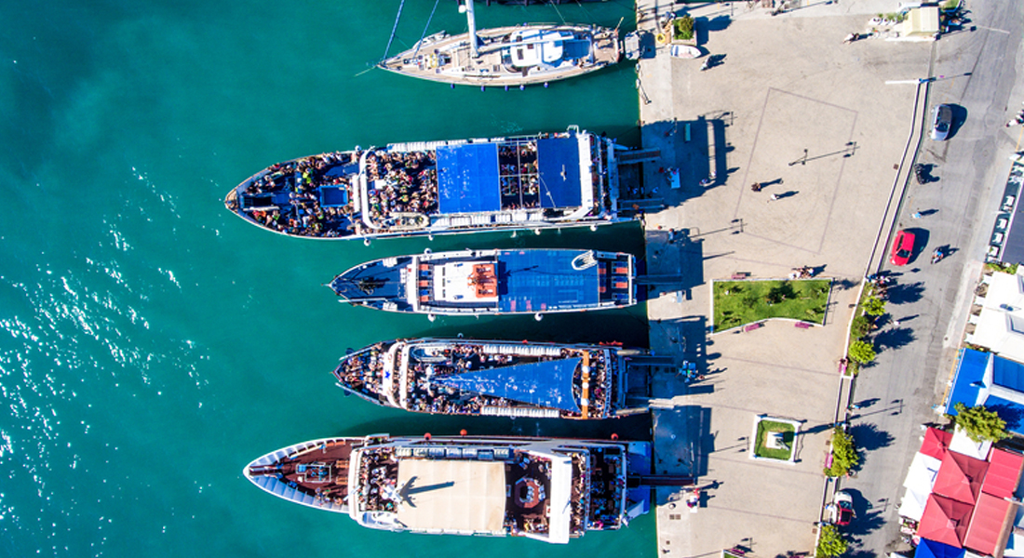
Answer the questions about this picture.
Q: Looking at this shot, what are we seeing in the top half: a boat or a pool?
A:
boat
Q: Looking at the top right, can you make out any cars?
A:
Yes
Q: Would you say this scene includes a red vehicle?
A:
Yes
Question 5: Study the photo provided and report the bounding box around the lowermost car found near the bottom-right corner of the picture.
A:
[832,490,854,527]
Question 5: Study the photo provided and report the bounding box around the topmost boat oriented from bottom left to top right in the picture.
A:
[416,28,448,50]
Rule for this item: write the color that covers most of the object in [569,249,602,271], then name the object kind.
white boat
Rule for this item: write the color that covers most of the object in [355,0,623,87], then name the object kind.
white boat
